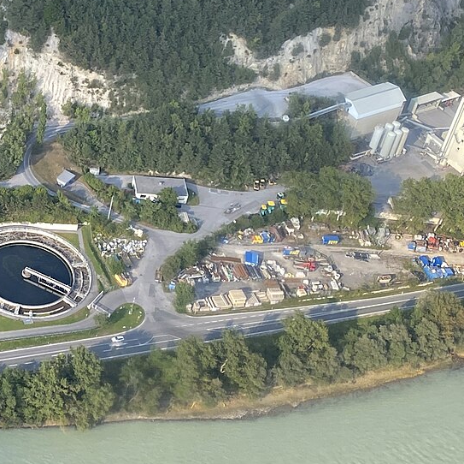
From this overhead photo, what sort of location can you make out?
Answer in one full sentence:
The picture captures an industrial area.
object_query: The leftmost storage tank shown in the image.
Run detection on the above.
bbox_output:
[0,226,92,322]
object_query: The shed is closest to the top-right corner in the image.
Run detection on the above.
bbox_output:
[404,90,446,115]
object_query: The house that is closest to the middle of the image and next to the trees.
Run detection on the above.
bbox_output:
[134,177,189,205]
